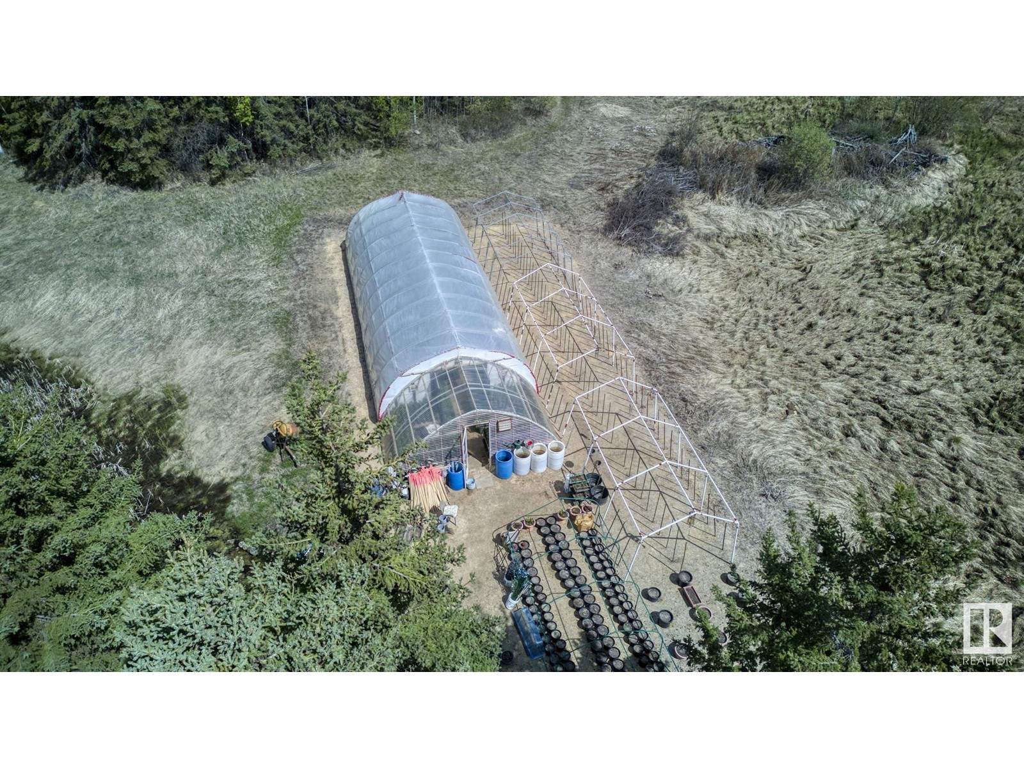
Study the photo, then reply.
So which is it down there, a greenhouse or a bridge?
greenhouse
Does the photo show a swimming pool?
No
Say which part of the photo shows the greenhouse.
center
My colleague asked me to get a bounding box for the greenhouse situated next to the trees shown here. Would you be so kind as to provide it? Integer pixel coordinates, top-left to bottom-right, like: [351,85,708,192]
[336,190,556,490]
